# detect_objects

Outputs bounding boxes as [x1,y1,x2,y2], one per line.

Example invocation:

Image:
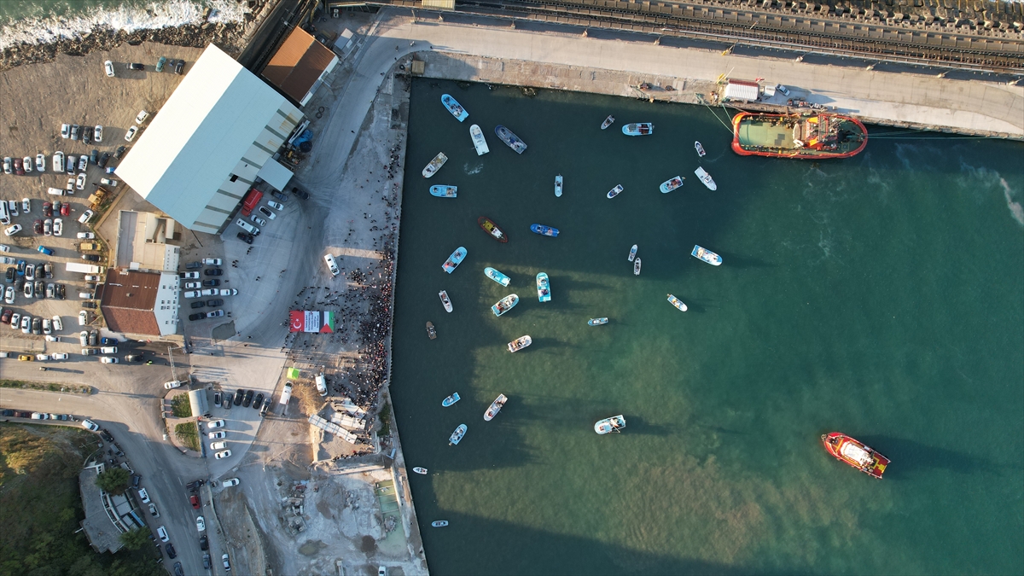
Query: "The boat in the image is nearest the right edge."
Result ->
[822,435,893,482]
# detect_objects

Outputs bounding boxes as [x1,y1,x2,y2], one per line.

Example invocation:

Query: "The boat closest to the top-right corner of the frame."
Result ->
[730,107,868,160]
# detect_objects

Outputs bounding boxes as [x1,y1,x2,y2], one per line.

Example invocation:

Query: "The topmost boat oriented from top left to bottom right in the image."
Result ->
[442,94,469,123]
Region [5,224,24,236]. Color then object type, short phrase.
white vehicle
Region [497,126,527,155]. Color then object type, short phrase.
blue boat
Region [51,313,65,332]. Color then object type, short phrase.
white vehicle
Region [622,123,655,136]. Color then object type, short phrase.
blue boat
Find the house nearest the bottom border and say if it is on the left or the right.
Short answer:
left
